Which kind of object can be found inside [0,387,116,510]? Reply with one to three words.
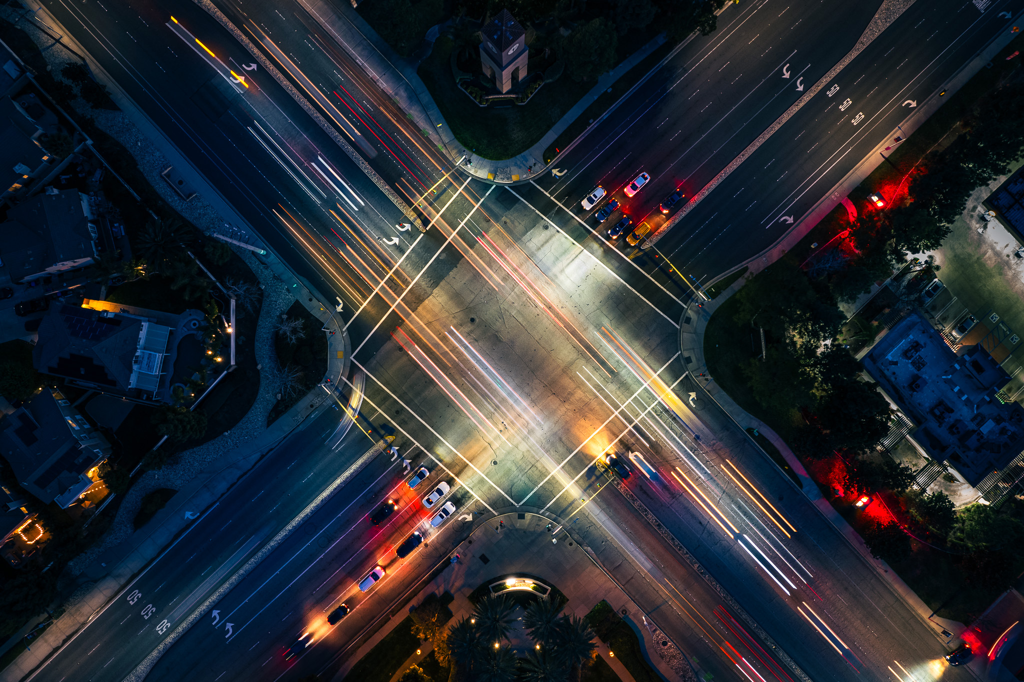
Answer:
house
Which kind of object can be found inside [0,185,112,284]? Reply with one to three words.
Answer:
house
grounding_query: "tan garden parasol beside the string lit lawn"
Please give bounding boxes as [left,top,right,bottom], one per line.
[81,498,98,515]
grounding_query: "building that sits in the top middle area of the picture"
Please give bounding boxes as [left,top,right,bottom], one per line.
[479,4,527,77]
